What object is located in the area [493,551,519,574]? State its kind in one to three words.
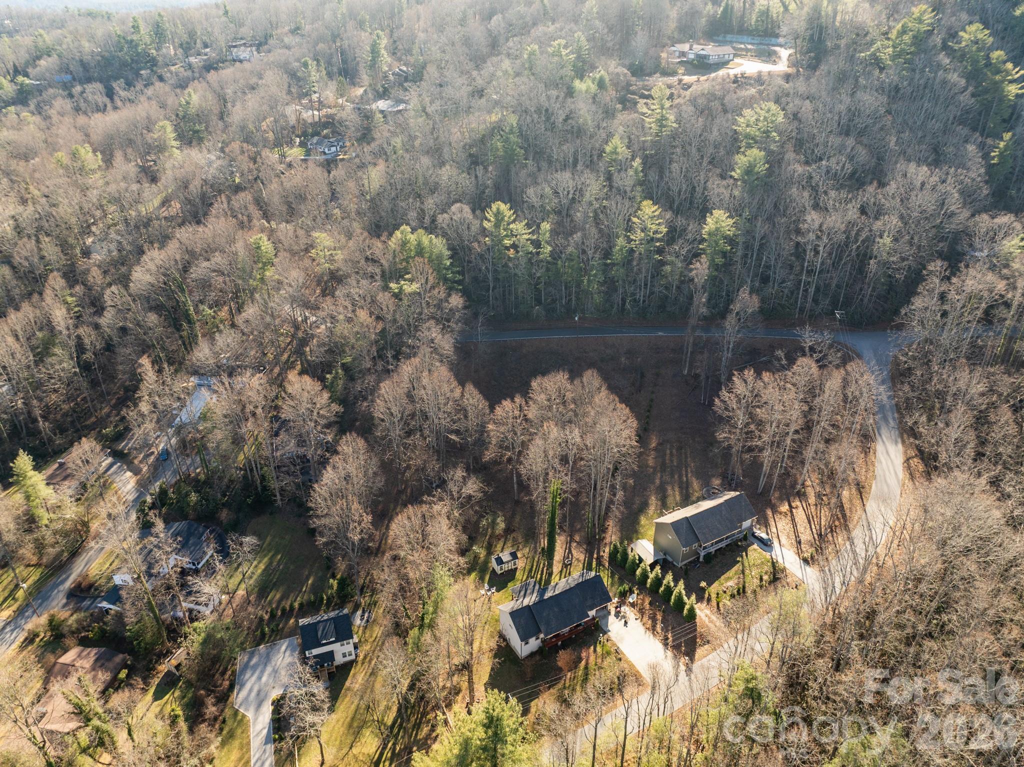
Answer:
shed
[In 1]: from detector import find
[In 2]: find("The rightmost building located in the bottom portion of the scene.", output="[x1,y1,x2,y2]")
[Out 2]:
[655,491,762,567]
